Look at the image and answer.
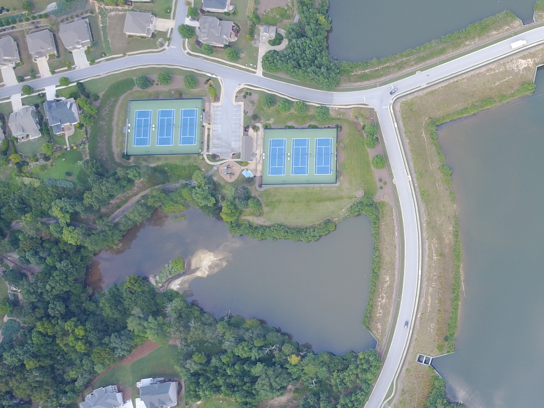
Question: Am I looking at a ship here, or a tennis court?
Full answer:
Visible in the photo is a tennis court.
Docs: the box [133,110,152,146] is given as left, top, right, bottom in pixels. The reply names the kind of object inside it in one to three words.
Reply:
tennis court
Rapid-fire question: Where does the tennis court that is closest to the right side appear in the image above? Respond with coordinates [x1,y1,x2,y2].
[315,138,333,174]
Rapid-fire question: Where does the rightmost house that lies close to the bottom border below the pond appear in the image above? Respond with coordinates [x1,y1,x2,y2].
[135,377,181,408]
